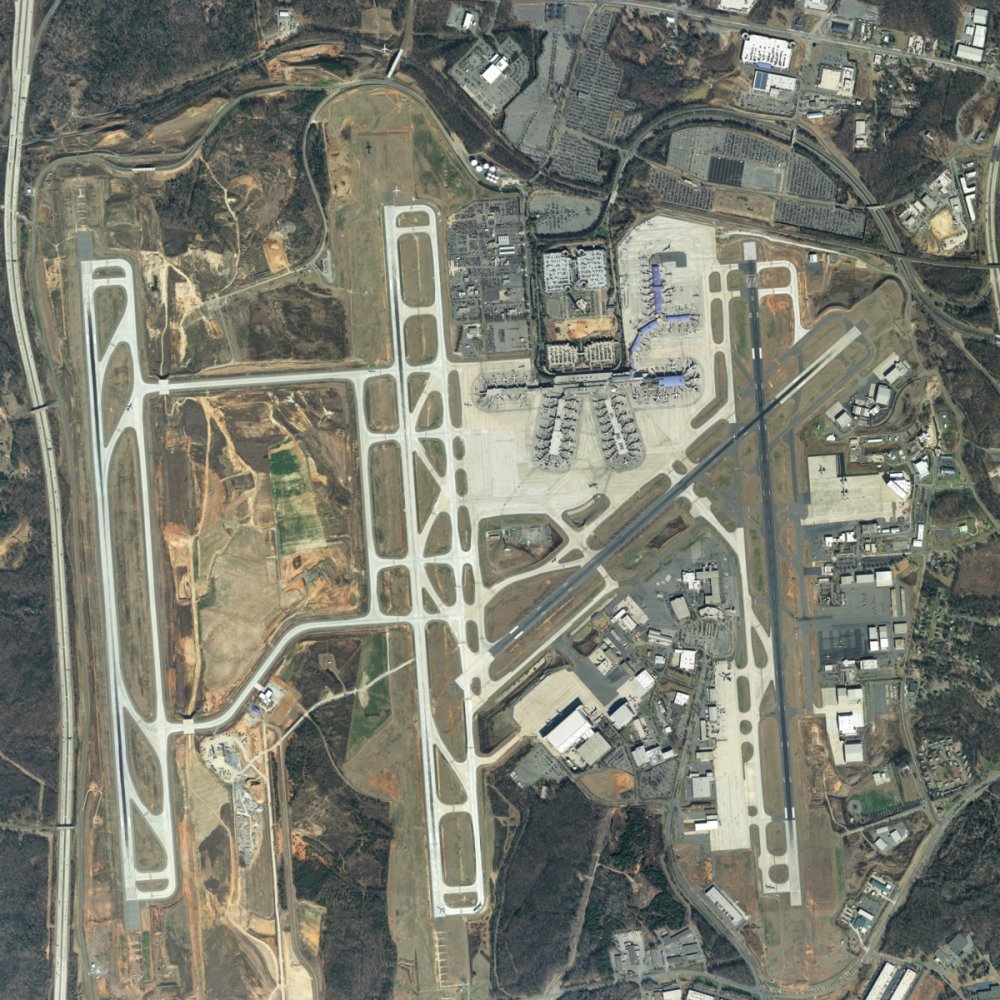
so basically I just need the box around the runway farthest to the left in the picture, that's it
[77,232,141,929]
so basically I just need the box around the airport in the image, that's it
[77,202,909,929]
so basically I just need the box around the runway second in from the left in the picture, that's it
[384,205,447,928]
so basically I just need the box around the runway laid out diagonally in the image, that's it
[487,325,861,658]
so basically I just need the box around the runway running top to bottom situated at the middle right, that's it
[743,241,801,906]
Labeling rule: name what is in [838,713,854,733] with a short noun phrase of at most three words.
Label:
hangar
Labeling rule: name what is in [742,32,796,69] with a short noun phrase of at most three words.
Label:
building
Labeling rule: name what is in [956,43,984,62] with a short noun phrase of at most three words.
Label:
building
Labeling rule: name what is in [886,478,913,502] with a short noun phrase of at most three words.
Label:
hangar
